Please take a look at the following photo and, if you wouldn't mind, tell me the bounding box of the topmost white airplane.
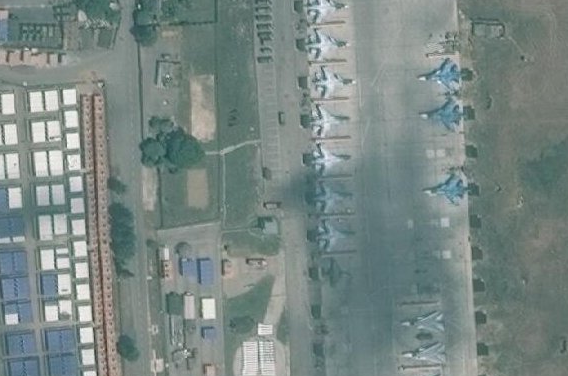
[305,0,348,21]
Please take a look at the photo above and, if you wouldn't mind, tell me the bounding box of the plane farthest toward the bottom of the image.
[403,344,445,364]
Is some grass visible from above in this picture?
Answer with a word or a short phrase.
Yes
